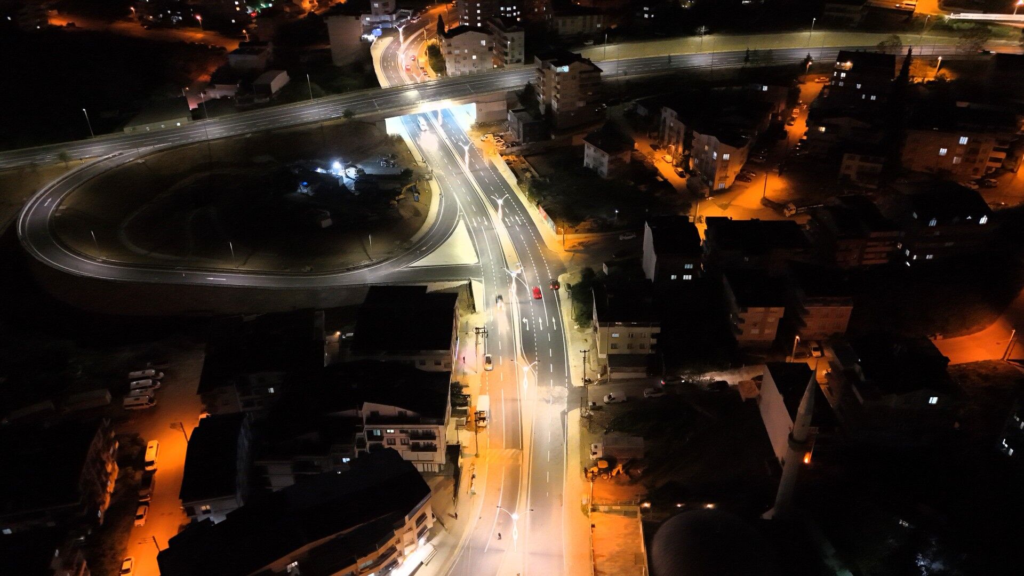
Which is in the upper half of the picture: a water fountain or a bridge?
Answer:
bridge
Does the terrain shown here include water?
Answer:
No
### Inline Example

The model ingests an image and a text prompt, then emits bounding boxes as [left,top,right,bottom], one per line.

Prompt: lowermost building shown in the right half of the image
[642,508,808,576]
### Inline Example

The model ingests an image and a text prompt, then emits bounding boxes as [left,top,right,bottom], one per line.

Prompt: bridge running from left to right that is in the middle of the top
[374,90,514,130]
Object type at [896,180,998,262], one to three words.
building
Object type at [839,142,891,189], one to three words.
house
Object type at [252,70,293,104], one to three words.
shed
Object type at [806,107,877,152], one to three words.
house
